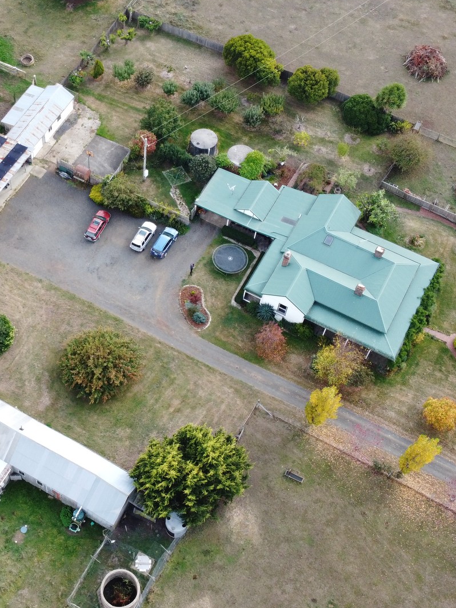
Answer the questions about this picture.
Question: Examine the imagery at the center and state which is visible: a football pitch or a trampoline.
trampoline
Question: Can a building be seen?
Yes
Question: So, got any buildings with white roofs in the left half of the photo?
Yes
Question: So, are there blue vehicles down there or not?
Yes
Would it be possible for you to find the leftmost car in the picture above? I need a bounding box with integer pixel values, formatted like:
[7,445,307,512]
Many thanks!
[85,210,109,242]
